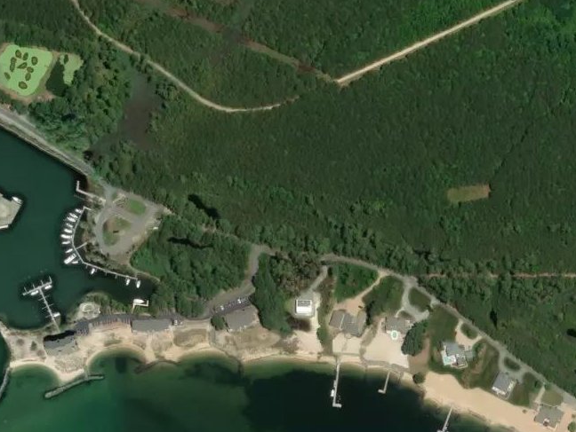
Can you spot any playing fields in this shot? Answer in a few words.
No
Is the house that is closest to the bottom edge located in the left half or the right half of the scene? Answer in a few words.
right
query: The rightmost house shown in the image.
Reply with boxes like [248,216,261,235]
[533,404,564,431]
